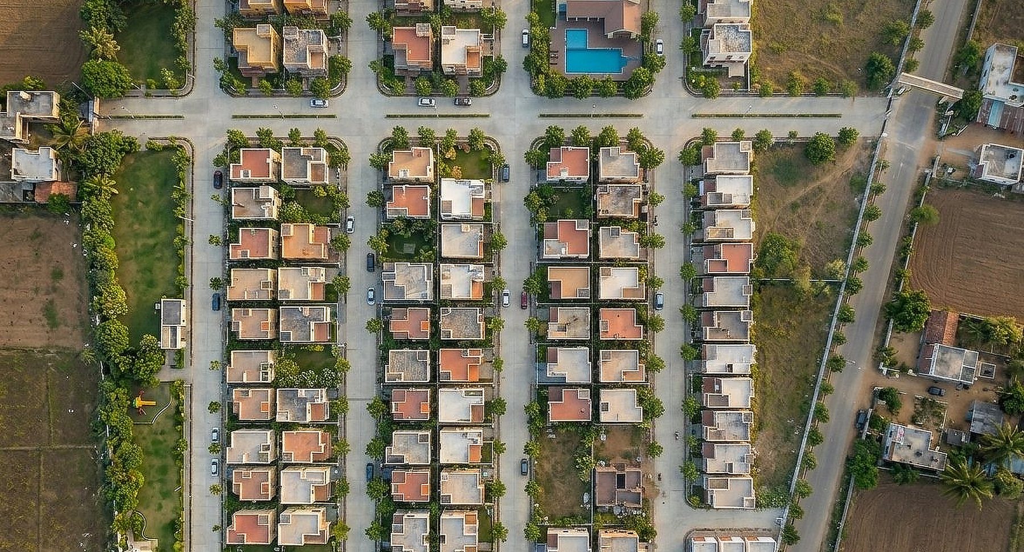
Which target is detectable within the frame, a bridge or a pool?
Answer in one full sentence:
This aerial view contains a pool.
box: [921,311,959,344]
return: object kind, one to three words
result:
building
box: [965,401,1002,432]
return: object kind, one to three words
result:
shed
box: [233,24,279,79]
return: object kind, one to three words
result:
house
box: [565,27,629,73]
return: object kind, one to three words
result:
swimming pool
